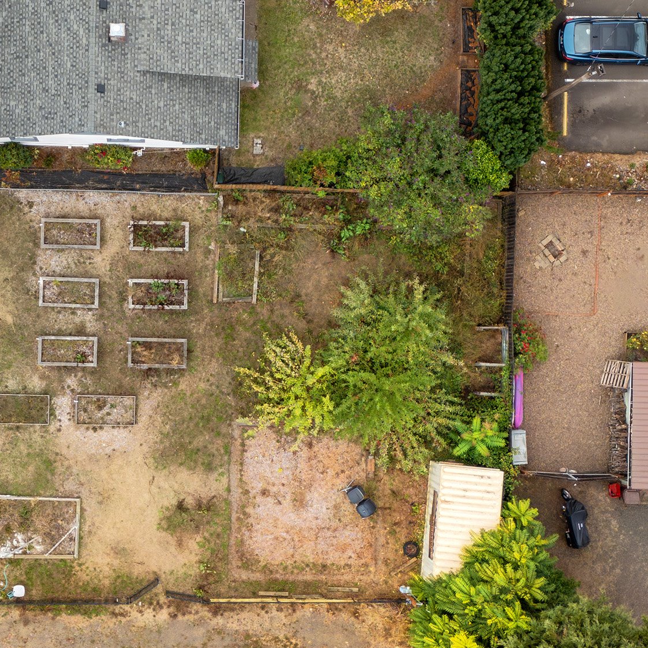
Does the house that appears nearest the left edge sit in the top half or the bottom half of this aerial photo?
top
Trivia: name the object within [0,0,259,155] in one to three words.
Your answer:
house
